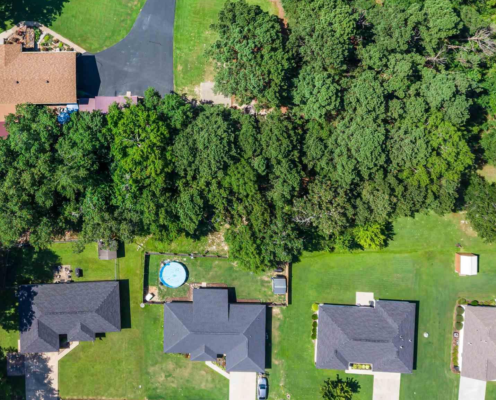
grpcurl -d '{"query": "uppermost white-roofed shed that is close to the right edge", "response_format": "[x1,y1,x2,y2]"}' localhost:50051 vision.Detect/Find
[455,254,477,275]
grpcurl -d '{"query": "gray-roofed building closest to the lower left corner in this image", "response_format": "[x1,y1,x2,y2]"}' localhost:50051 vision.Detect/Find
[20,279,121,352]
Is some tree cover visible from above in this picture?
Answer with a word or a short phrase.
Yes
